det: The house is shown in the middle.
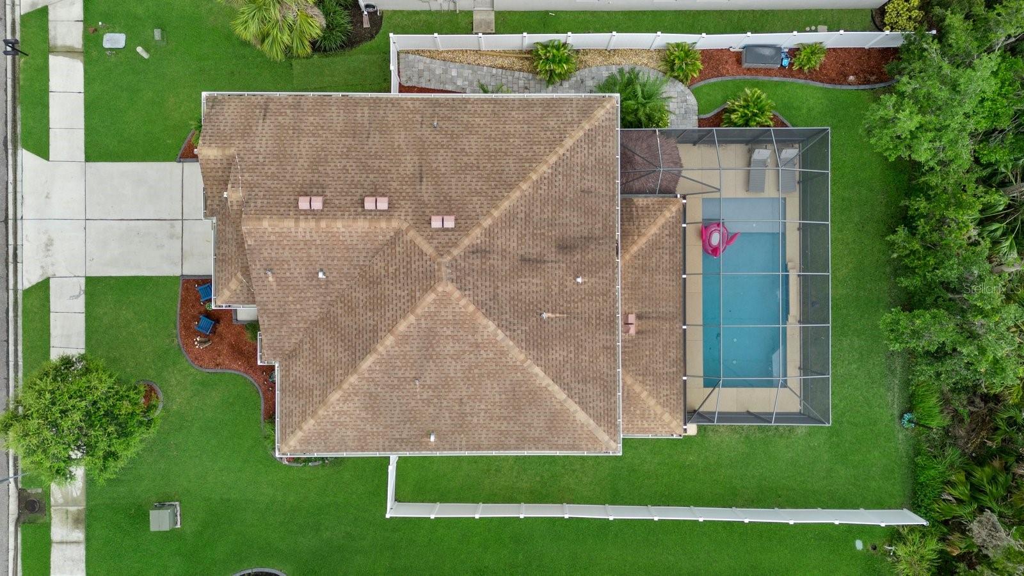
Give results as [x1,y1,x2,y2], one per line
[193,93,686,456]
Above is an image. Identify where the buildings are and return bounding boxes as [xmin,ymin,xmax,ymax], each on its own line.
[361,0,891,14]
[193,93,686,456]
